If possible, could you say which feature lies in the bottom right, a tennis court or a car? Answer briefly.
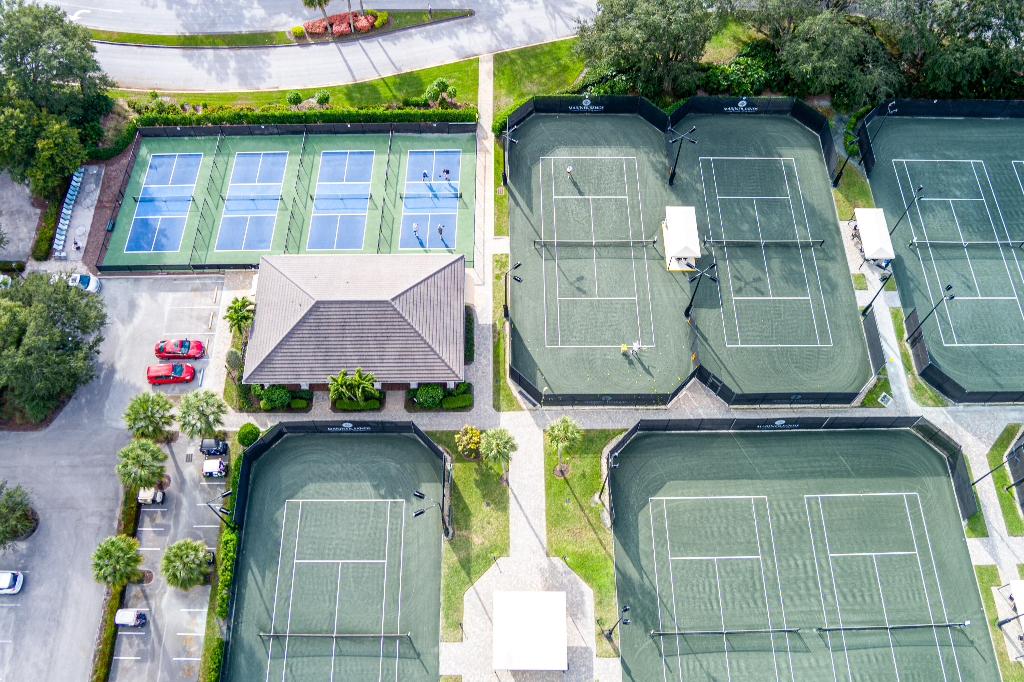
tennis court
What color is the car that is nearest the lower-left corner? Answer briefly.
white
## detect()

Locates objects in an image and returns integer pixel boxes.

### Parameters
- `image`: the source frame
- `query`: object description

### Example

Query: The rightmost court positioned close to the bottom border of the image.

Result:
[752,428,1004,682]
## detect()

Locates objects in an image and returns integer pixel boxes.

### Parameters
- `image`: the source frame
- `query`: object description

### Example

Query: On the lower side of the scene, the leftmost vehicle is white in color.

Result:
[0,573,25,596]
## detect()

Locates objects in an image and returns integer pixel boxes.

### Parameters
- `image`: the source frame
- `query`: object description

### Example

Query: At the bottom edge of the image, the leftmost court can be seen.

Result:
[226,433,444,682]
